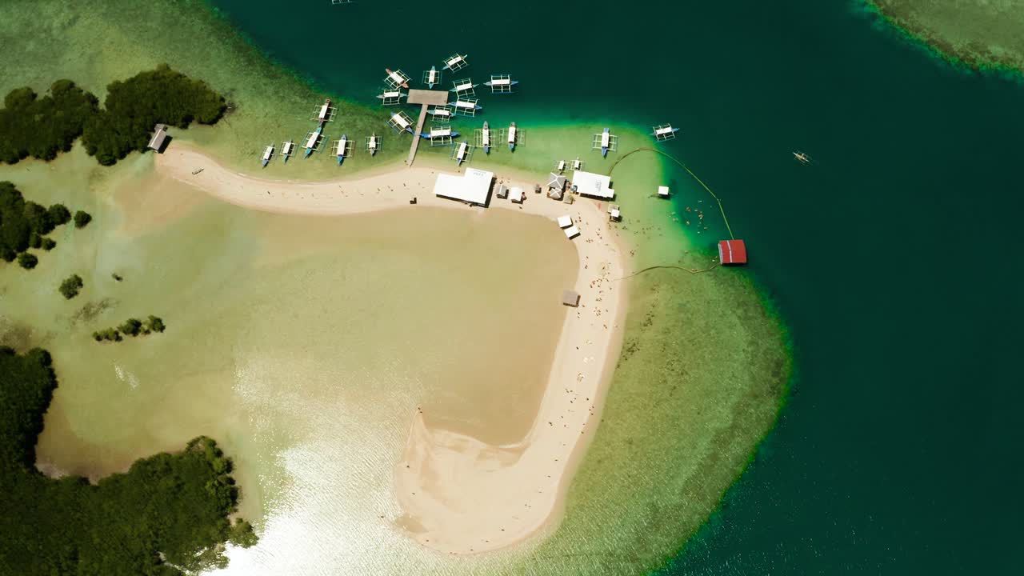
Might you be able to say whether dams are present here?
No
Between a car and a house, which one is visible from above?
house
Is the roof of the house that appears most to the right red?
Yes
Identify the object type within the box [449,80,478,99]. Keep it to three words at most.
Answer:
boat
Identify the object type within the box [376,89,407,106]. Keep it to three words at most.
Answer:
boat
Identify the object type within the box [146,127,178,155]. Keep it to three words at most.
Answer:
shed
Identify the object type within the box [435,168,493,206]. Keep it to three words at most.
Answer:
building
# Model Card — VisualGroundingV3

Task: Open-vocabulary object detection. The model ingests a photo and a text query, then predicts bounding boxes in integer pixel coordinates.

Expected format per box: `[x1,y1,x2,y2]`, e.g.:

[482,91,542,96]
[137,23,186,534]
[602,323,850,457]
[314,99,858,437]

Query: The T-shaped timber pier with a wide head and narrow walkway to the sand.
[407,89,449,166]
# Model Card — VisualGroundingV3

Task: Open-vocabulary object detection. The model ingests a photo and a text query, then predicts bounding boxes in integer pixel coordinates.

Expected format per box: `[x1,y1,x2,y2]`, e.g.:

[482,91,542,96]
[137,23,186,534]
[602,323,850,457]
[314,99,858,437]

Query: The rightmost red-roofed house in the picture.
[716,238,747,269]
